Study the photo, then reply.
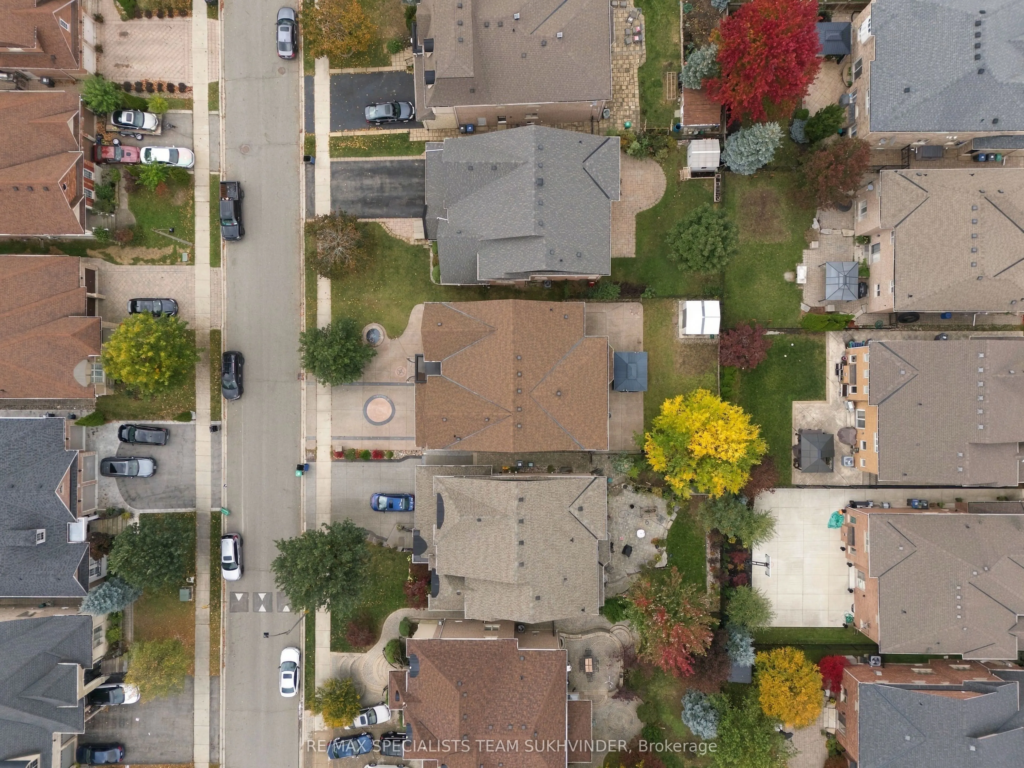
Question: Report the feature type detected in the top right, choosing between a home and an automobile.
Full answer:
Visible in the top right is a home.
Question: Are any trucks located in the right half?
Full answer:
No, in the right half there is no truck.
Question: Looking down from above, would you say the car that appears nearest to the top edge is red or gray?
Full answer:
The car that appears nearest to the top edge looks gray in the image.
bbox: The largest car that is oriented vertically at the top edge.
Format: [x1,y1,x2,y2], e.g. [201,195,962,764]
[274,8,299,61]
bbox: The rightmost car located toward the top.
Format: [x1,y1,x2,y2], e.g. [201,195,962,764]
[364,99,416,125]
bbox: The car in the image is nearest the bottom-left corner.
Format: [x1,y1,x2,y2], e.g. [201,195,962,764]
[77,739,127,767]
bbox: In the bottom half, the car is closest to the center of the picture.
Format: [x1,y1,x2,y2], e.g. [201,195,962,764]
[371,492,415,514]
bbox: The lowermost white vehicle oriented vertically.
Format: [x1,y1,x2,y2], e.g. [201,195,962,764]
[277,645,302,697]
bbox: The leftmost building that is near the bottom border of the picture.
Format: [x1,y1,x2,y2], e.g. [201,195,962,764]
[0,608,124,768]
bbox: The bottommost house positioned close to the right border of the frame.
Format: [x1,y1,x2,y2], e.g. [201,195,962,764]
[824,661,1024,768]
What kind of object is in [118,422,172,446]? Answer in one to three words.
car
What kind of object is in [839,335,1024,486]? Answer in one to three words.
house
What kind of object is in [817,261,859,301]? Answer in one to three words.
gazebo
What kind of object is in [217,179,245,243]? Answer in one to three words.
truck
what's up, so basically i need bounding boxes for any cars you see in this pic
[364,99,416,125]
[88,681,140,708]
[277,645,302,697]
[93,141,142,166]
[345,698,396,733]
[118,422,172,446]
[219,531,245,581]
[141,144,196,169]
[375,730,402,758]
[274,8,299,61]
[126,295,180,318]
[110,108,162,133]
[324,729,376,760]
[77,739,127,767]
[100,455,159,479]
[371,492,415,514]
[219,351,246,400]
